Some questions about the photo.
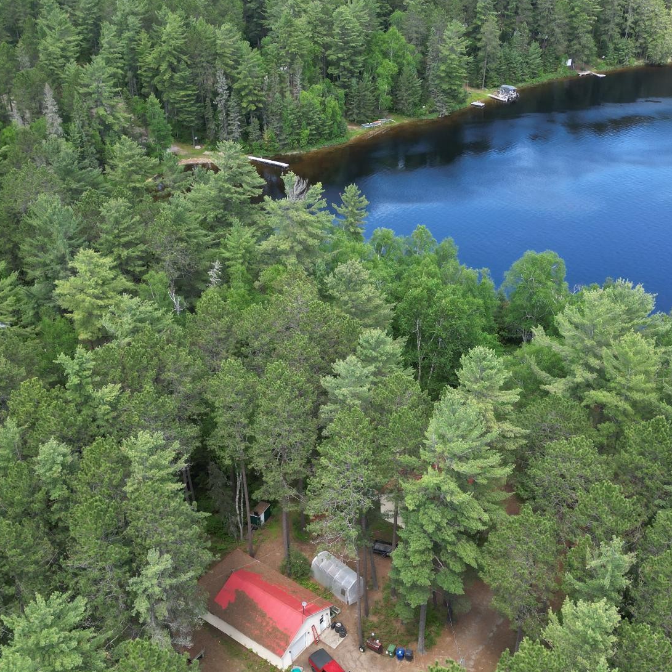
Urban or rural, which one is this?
rural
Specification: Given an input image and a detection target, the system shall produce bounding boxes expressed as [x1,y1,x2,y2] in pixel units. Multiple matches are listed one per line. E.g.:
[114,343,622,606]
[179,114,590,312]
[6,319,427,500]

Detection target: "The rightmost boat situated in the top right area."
[496,88,518,100]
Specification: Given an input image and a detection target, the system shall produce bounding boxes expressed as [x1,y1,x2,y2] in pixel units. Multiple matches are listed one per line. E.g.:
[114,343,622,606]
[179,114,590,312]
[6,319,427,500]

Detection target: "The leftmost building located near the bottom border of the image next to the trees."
[189,548,336,671]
